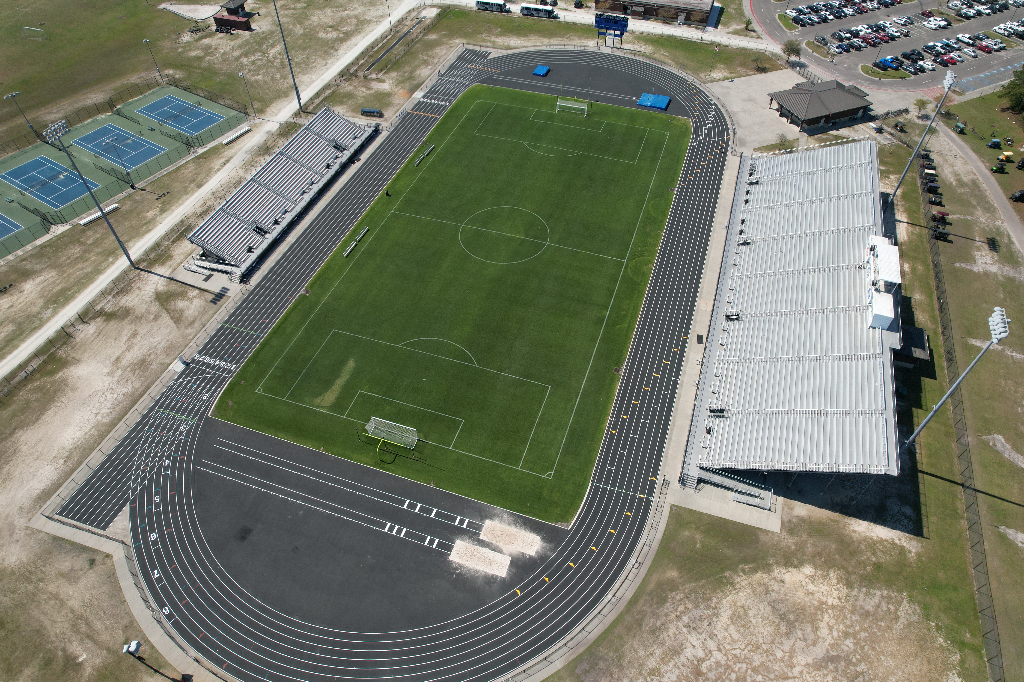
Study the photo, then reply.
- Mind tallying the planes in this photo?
0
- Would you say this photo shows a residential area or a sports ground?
sports ground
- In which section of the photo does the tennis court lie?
top left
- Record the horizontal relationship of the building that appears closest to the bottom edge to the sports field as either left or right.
right of it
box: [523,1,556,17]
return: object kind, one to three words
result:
vehicle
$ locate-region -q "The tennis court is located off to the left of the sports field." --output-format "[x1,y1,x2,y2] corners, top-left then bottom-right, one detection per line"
[0,94,225,239]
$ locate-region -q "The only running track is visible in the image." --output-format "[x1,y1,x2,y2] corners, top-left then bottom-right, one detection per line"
[53,48,731,682]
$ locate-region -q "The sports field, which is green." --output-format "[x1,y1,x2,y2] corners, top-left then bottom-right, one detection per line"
[207,83,692,528]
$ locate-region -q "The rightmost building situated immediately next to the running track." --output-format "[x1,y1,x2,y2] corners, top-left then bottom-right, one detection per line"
[767,73,873,132]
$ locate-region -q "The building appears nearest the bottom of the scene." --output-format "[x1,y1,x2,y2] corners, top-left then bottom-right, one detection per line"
[890,324,930,368]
